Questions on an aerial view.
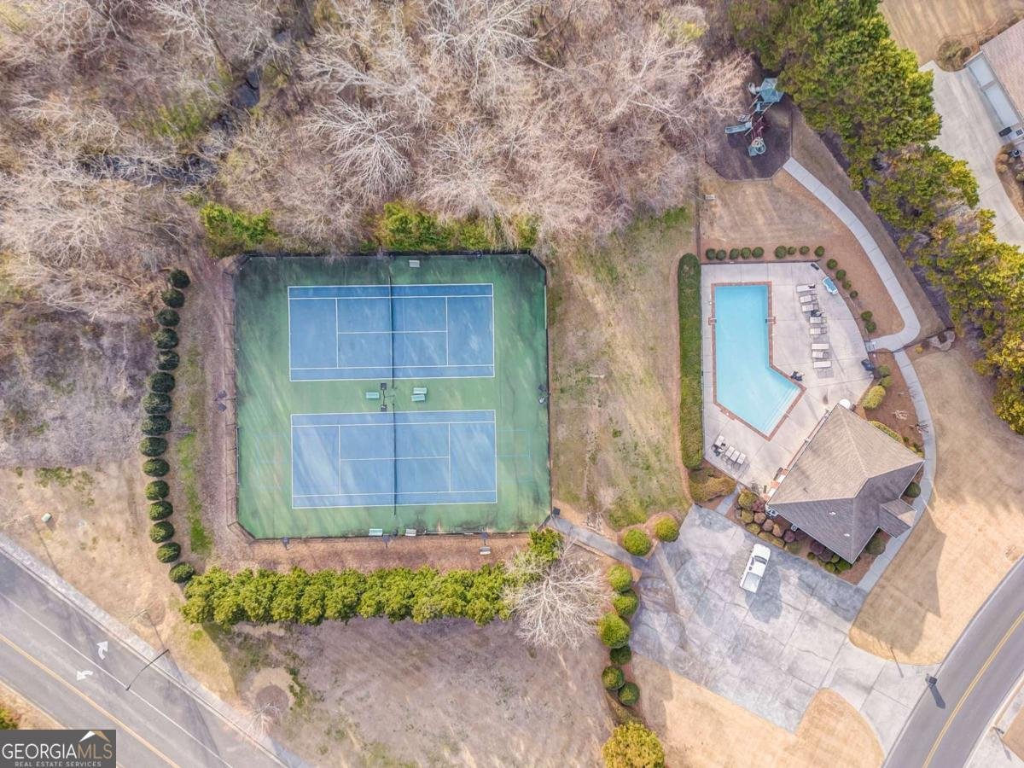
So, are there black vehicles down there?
No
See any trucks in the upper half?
No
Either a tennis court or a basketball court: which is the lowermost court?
tennis court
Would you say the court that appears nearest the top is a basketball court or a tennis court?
tennis court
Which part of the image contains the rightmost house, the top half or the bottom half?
top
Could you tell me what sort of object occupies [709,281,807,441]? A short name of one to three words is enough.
swimming pool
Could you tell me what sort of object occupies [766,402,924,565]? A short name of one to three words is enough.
building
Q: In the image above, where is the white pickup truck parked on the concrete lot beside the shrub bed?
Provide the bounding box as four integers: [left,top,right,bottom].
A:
[740,544,771,593]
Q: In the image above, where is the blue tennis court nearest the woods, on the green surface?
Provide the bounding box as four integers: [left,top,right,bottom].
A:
[232,254,549,396]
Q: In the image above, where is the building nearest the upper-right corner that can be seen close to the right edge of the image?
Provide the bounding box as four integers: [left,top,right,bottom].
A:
[965,25,1024,167]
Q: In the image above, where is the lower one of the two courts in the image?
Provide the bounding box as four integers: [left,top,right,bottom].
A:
[235,396,550,539]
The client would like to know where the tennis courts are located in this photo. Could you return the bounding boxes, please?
[235,396,550,539]
[232,254,549,396]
